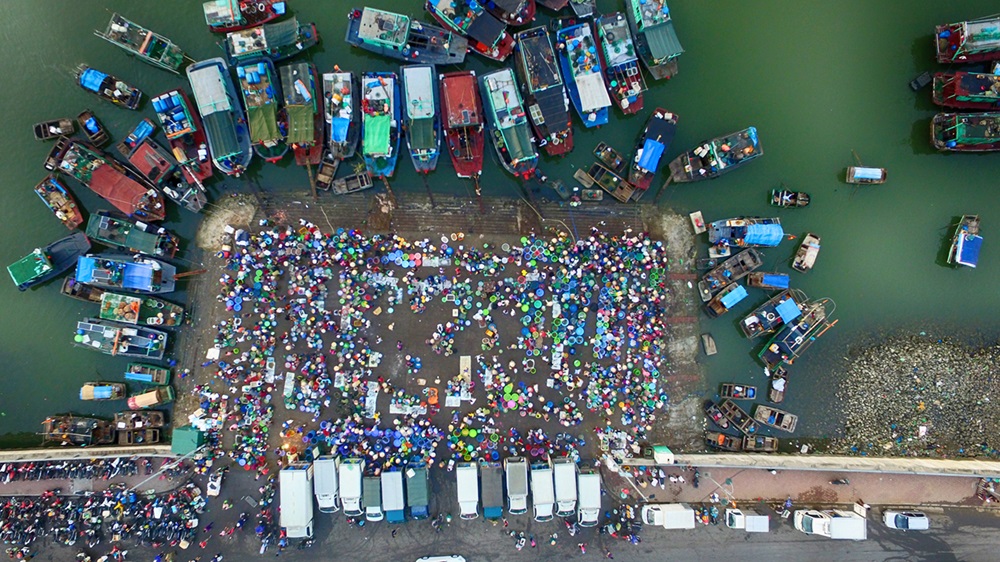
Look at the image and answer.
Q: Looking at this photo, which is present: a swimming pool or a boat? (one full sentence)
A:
It is a boat that can be seen here.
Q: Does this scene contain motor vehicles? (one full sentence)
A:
Yes, a motor vehicle appears in the view.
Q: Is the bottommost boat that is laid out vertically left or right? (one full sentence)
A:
It is on the right.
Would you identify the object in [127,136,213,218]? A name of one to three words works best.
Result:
boat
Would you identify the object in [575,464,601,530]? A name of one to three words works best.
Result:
truck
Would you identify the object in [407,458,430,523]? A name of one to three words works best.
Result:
truck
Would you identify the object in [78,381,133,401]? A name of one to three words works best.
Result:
boat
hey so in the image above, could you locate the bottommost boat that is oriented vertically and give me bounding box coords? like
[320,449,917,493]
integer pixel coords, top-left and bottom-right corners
[766,366,789,404]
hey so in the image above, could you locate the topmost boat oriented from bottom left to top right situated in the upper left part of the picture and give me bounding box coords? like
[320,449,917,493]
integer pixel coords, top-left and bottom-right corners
[120,118,160,154]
